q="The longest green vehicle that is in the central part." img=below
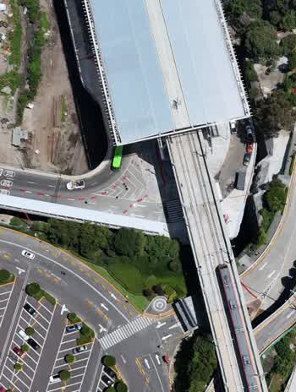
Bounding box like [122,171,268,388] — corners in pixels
[112,143,125,171]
